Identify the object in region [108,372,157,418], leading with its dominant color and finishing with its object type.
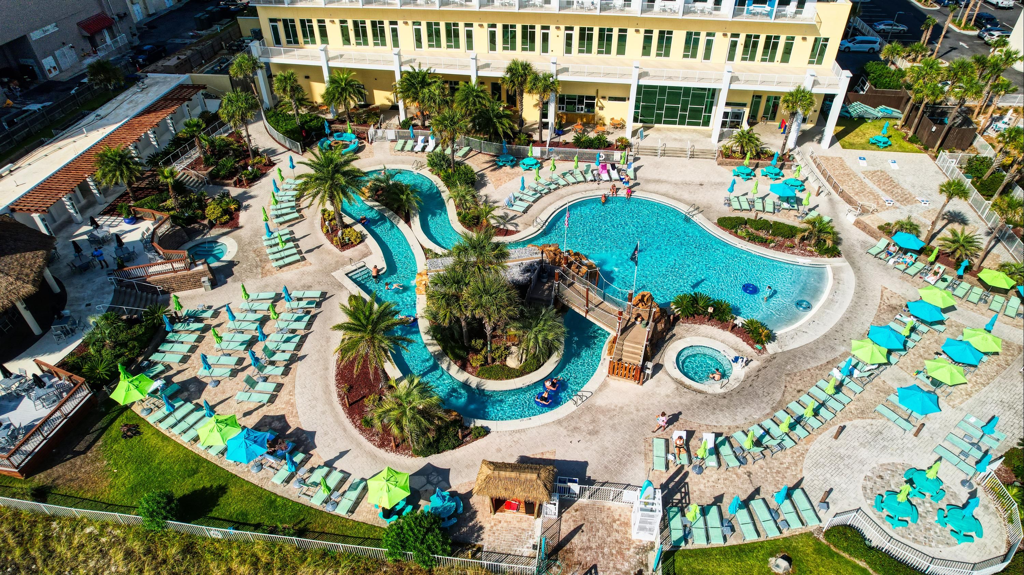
green umbrella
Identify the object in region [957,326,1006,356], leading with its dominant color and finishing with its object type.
green umbrella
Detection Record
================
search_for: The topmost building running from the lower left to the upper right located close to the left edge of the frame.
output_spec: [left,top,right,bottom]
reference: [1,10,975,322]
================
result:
[0,72,211,246]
